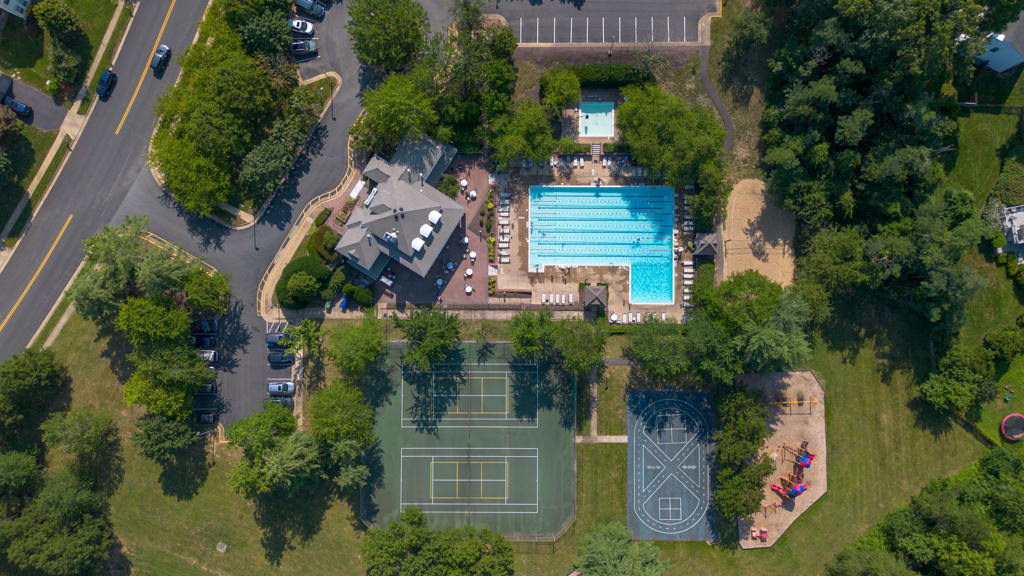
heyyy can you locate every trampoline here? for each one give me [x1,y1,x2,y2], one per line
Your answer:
[1000,414,1024,441]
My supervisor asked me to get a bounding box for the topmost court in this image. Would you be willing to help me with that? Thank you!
[723,179,797,290]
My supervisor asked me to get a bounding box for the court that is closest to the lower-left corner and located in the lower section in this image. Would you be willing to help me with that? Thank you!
[366,342,575,536]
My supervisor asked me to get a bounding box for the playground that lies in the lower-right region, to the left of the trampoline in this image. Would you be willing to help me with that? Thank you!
[735,369,828,550]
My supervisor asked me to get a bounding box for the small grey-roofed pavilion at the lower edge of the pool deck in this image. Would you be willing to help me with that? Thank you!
[584,285,608,307]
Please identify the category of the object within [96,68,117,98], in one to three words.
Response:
vehicle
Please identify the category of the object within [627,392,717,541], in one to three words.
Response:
sports court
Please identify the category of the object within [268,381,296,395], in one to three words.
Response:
car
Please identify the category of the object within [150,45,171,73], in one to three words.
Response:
car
